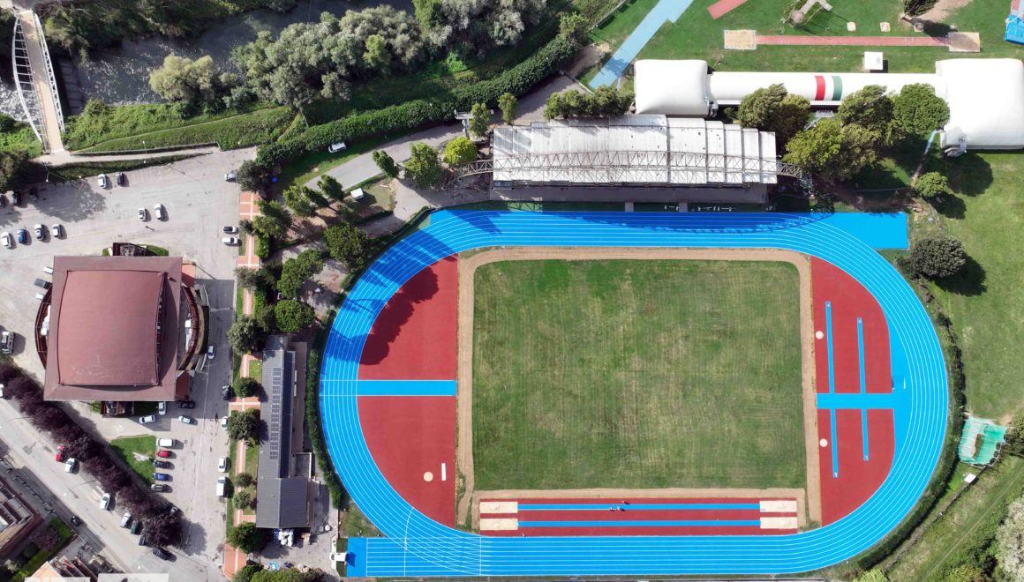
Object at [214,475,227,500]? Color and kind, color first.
white vehicle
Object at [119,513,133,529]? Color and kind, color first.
white car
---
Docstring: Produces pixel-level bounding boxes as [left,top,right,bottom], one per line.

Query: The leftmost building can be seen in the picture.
[0,478,42,557]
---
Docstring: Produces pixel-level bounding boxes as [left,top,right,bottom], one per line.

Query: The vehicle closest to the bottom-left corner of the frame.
[69,515,83,528]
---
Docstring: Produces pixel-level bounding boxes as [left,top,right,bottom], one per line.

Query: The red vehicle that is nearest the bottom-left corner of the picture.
[54,445,66,462]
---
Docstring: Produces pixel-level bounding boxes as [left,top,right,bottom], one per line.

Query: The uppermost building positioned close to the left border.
[34,243,212,415]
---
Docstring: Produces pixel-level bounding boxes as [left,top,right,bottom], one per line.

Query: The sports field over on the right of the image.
[473,259,806,491]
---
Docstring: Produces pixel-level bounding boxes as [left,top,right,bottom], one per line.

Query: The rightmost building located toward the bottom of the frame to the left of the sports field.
[256,336,315,528]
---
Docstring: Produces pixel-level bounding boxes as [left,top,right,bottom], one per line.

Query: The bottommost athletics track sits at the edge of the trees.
[319,209,951,579]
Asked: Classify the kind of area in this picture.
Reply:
sports ground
